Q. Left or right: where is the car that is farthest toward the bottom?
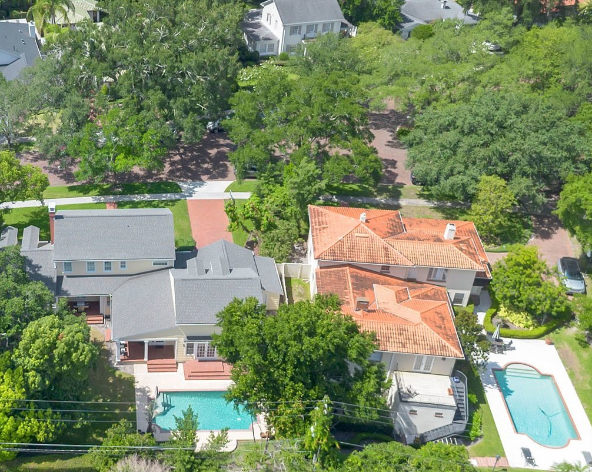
right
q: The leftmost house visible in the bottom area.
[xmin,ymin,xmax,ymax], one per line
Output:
[0,205,284,380]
